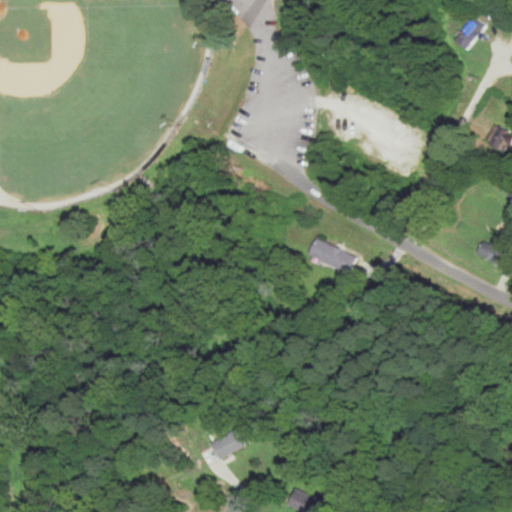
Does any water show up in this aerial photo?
No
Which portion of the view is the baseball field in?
top left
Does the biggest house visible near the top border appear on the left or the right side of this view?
right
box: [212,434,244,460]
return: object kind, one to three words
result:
house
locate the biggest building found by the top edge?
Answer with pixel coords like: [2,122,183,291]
[452,16,492,53]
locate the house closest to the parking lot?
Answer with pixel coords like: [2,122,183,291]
[310,237,358,272]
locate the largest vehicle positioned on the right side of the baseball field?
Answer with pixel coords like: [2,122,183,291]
[226,140,246,154]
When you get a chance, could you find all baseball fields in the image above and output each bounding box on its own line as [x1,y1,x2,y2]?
[0,0,208,202]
